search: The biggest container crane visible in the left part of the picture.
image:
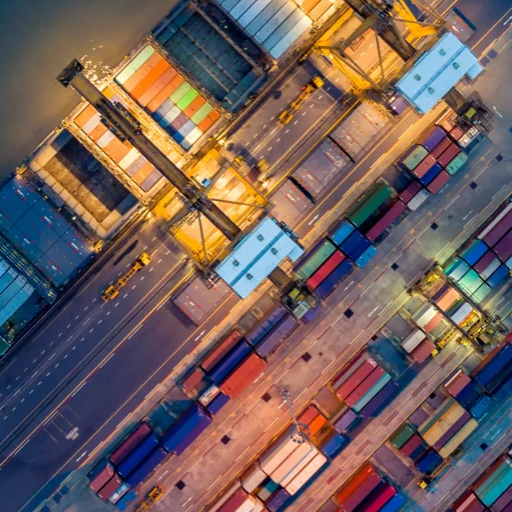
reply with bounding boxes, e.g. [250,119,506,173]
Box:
[57,61,306,301]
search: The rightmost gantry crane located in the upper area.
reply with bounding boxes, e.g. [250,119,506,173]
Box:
[427,86,509,148]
